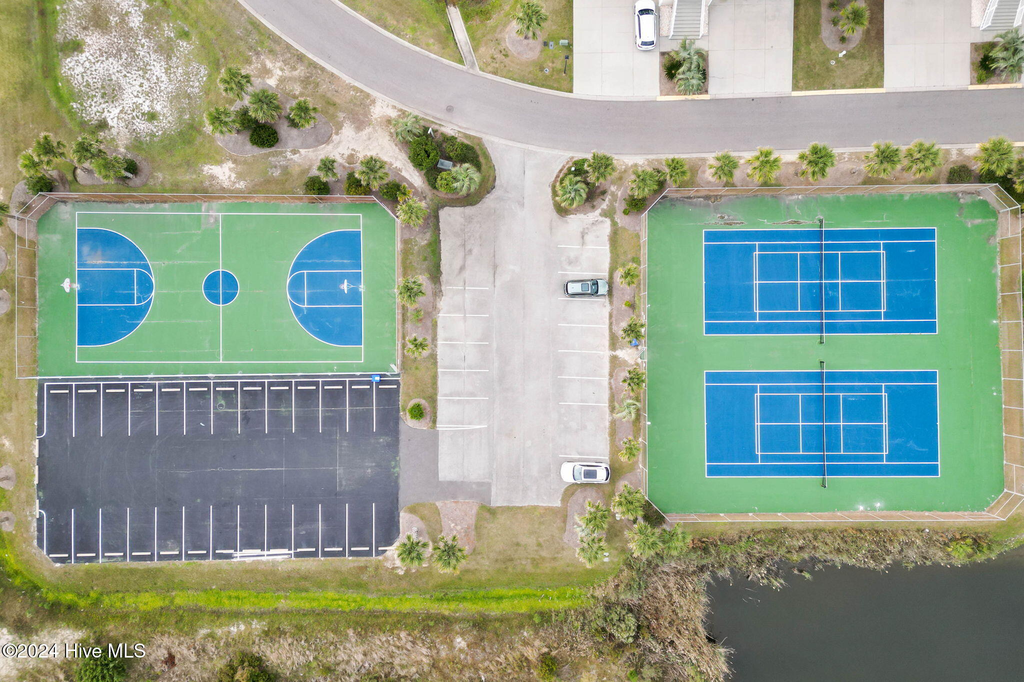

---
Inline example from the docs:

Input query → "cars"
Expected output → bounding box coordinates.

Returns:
[635,2,657,49]
[563,277,609,297]
[561,463,609,485]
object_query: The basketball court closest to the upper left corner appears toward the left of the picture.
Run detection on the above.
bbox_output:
[37,201,400,381]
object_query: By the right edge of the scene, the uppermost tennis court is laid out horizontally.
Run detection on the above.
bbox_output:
[645,193,1001,353]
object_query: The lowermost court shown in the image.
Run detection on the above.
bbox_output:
[645,350,1004,513]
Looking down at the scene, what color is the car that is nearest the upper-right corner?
white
